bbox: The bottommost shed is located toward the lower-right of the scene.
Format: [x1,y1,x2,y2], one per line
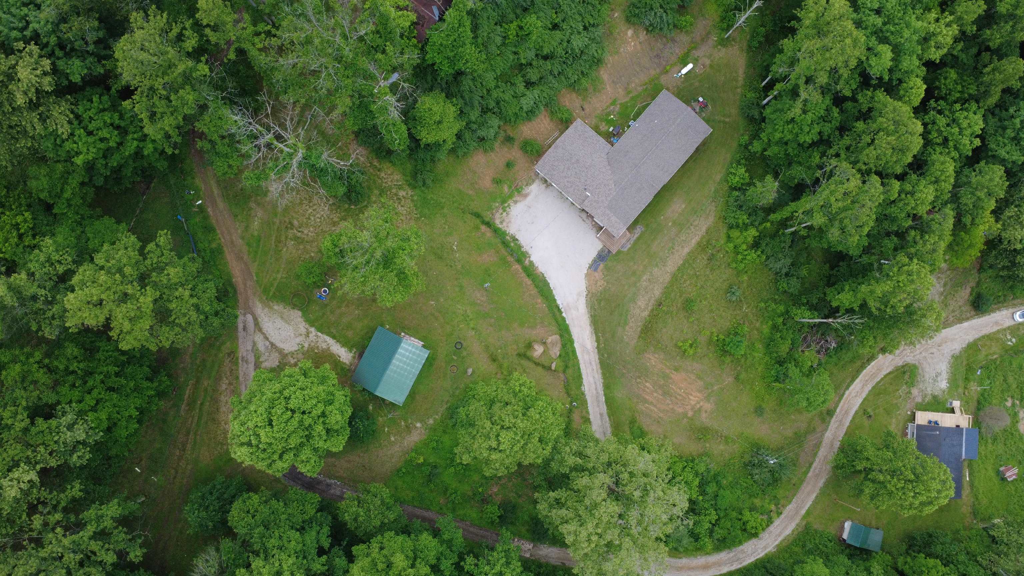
[838,519,883,551]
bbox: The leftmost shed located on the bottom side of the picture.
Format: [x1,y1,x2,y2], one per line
[352,326,429,407]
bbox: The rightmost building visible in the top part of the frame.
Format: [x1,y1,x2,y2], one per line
[534,87,711,239]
